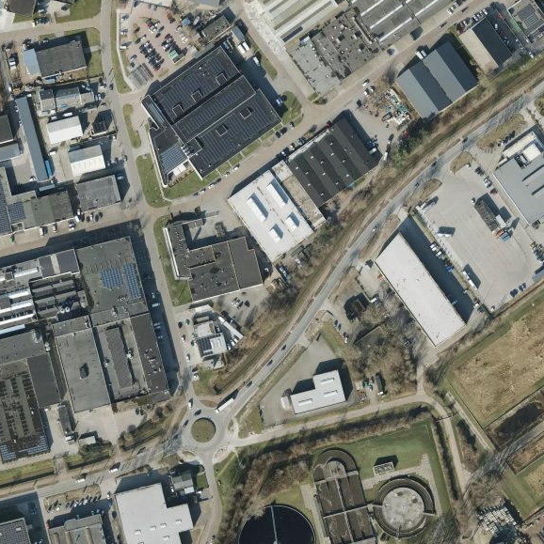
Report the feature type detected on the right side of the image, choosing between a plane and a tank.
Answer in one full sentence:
What appears on the right side of the image is a tank.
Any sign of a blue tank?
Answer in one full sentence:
No, there appears to be no blue tank in this shot.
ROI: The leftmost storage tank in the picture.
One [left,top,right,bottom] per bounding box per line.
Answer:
[239,498,316,544]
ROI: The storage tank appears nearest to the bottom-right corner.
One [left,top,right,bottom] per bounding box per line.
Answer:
[372,478,435,538]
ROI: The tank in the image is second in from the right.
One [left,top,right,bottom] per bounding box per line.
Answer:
[313,449,376,544]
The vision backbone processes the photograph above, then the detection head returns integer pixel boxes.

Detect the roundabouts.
[181,408,226,452]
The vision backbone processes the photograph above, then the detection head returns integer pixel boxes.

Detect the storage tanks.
[372,478,435,538]
[313,449,376,544]
[239,498,316,544]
